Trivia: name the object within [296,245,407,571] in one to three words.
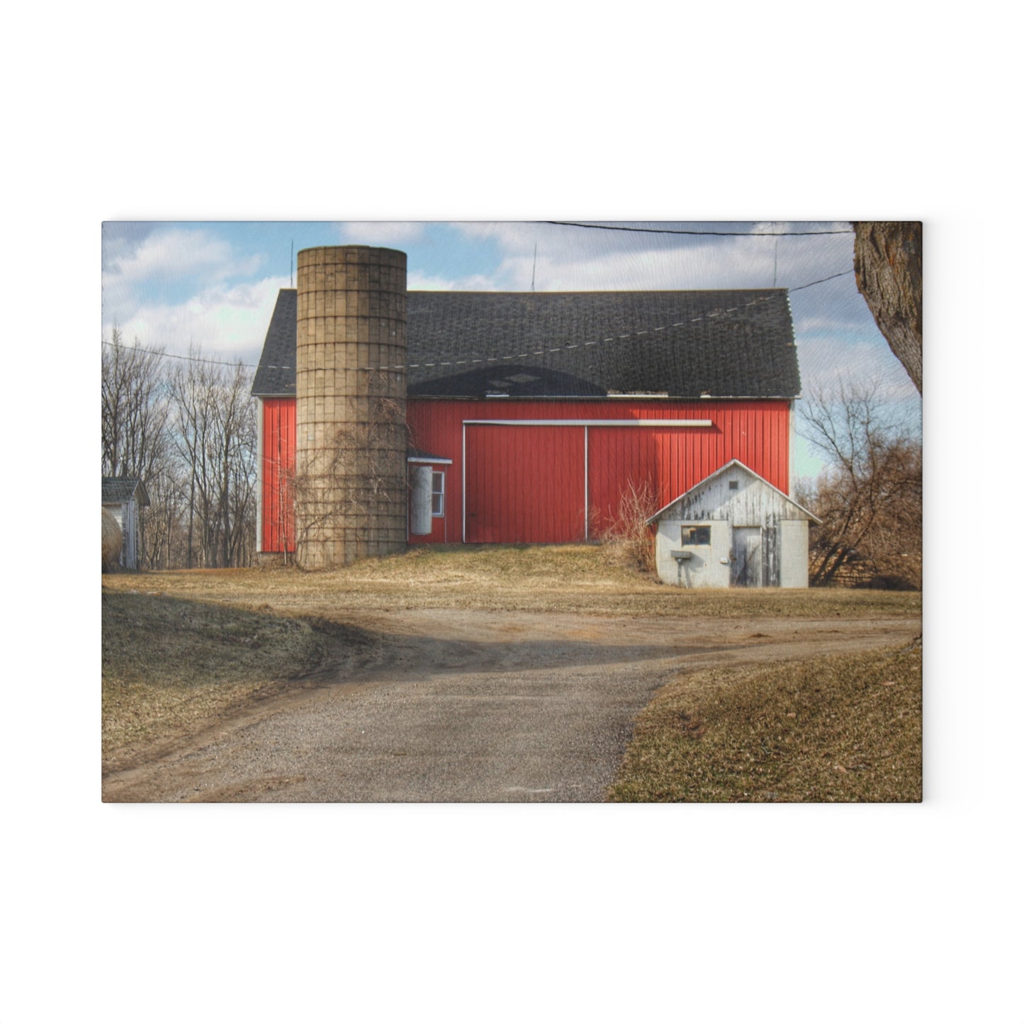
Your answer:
silo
